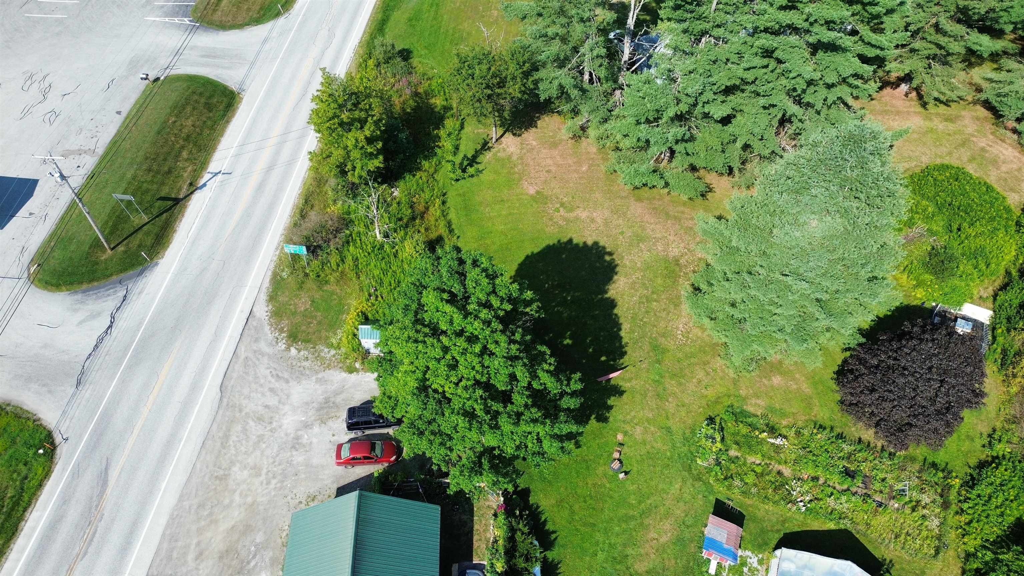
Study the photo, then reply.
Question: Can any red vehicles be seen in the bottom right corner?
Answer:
No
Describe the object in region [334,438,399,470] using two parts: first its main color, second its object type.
red car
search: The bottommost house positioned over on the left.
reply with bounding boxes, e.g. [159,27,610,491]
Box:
[282,485,441,576]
